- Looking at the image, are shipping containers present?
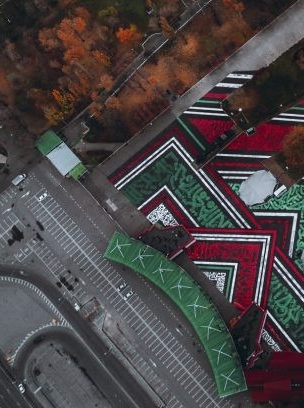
No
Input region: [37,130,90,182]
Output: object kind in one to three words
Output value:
building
